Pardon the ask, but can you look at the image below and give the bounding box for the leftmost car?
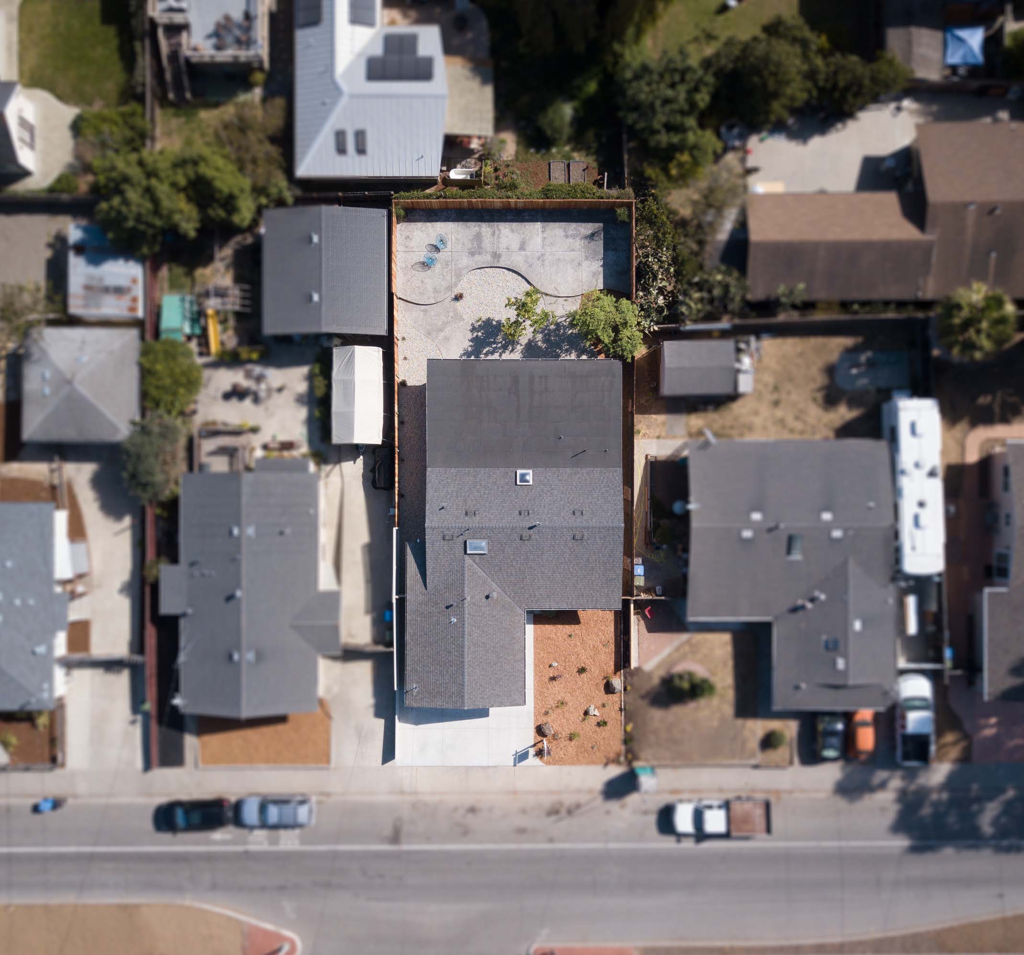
[158,797,231,836]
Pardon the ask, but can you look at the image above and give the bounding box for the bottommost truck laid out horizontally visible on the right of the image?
[674,797,768,837]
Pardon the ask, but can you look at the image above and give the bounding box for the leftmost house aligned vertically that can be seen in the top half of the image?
[0,85,36,174]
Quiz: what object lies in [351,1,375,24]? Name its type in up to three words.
solar panel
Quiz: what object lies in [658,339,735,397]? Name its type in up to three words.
shed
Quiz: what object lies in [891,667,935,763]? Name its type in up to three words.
truck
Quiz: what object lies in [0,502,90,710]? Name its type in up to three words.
house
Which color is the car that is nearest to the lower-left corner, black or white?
black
